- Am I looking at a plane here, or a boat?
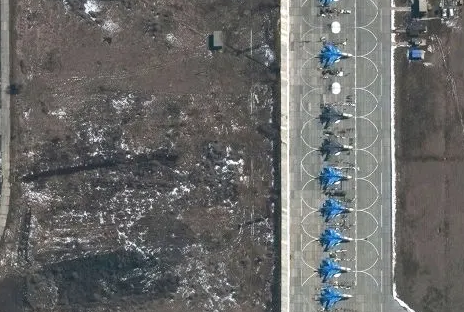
plane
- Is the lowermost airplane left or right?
right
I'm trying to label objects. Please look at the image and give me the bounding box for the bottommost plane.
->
[316,285,353,309]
